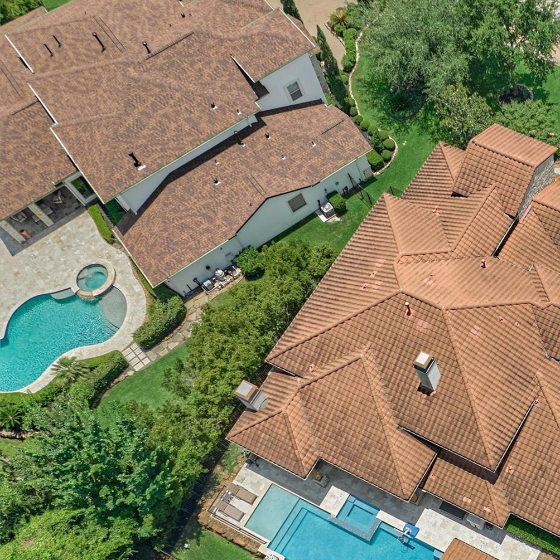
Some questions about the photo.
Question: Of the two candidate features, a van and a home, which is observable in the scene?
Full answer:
I can see a home in this picture.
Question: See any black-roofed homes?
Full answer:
No, I can see no black-roofed home in this picture.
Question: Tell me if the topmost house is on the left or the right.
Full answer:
It is on the left.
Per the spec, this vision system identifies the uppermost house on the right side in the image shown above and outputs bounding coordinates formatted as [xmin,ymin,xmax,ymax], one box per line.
[222,122,560,538]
